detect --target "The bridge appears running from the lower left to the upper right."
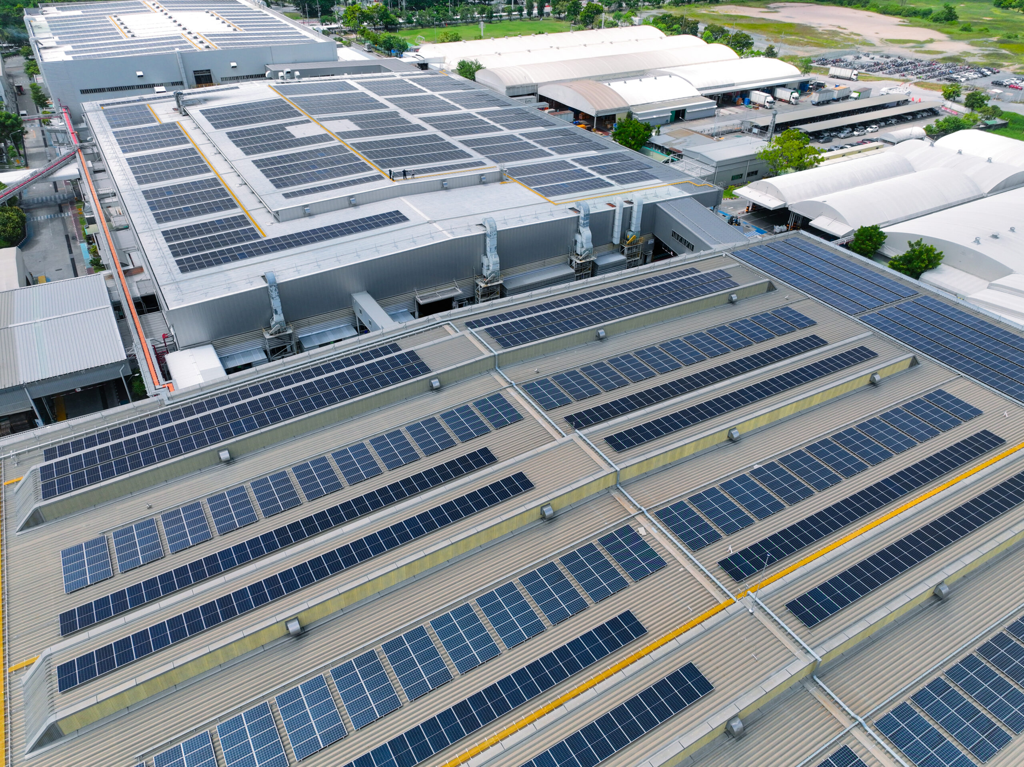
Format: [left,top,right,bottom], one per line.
[0,145,81,202]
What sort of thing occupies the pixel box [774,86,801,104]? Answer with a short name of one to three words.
vehicle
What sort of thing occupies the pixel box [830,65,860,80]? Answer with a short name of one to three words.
vehicle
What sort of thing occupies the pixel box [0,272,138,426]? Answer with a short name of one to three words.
shed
